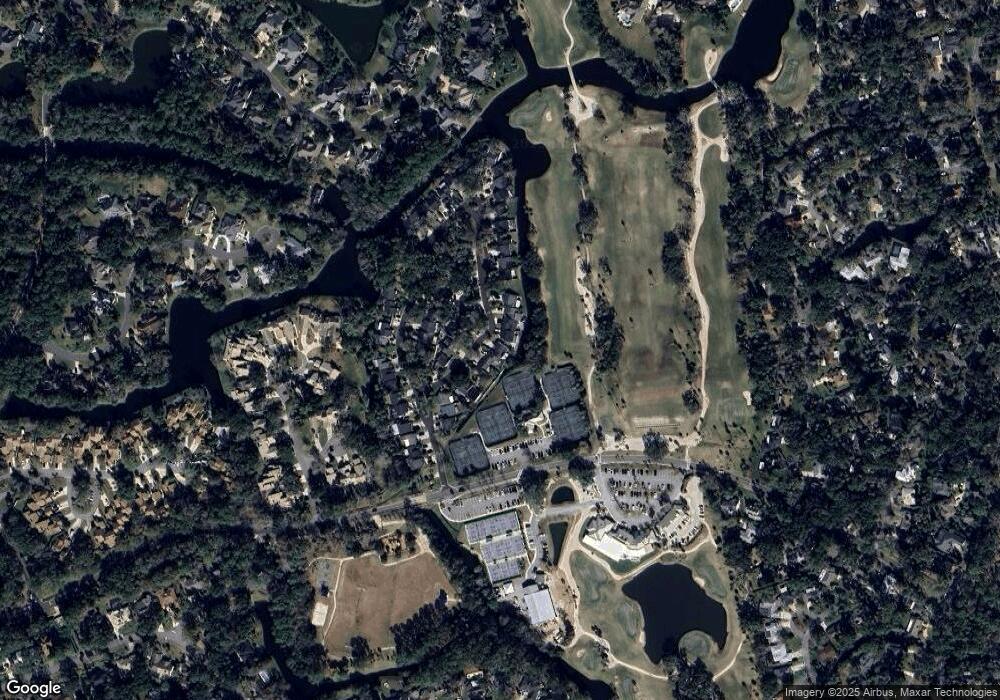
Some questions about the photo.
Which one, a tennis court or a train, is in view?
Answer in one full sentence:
It is a tennis court that can be seen here.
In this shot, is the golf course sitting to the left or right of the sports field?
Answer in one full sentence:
The golf course is to the right of the sports field.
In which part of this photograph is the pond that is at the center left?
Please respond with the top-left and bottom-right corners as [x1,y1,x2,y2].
[0,238,377,420]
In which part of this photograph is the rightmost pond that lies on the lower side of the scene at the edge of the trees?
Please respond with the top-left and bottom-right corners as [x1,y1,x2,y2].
[623,564,727,664]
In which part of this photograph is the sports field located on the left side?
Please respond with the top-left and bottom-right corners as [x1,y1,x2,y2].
[325,555,457,658]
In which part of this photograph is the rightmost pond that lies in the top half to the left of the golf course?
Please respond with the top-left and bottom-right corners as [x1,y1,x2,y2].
[304,0,407,68]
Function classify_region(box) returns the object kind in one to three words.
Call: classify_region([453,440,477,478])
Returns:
tennis court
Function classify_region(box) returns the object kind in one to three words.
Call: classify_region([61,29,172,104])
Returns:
pond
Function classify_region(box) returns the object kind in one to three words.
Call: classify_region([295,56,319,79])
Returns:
house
